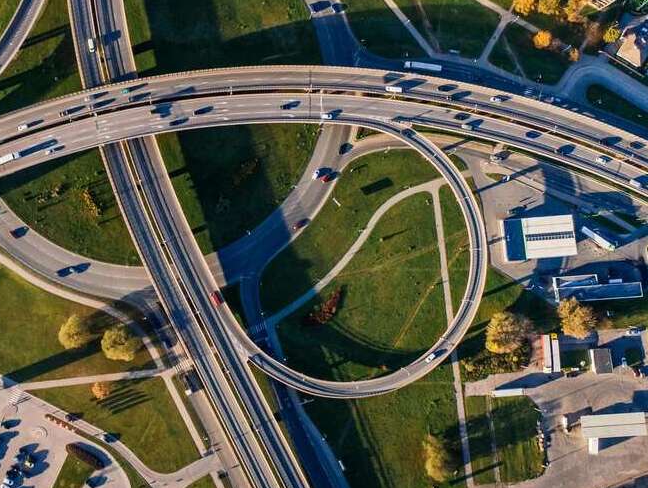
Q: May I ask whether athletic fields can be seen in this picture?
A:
No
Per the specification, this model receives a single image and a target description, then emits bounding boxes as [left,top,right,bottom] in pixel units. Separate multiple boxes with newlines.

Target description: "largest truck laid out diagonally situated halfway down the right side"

[583,224,618,249]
